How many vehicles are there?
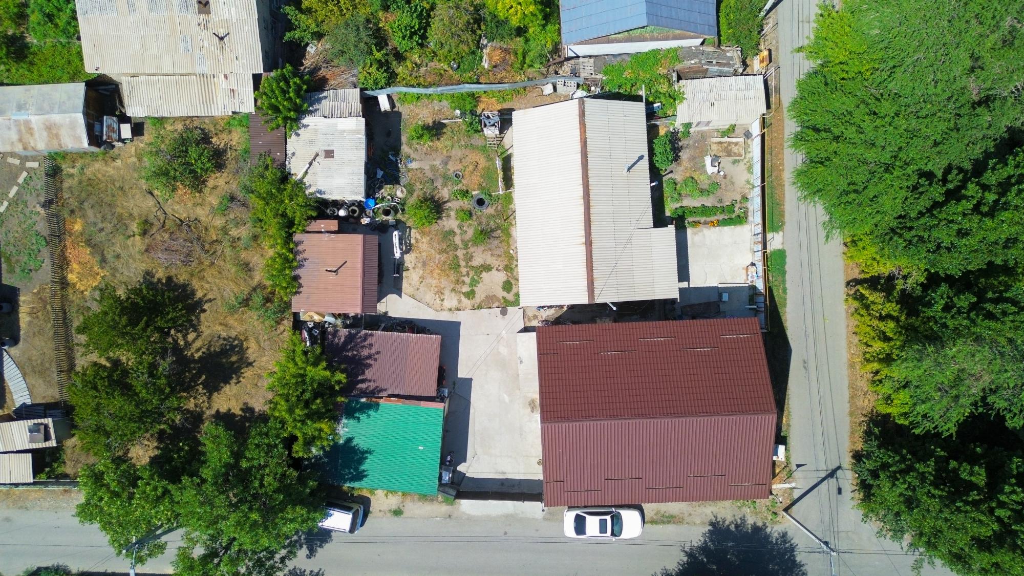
2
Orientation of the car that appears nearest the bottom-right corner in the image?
from left to right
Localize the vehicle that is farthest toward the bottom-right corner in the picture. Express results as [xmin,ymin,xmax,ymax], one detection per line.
[564,505,644,543]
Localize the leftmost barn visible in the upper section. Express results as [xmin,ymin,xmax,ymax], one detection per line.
[0,82,103,159]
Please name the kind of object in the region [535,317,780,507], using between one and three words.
house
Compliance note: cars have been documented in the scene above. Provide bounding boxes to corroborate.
[564,505,644,543]
[305,497,361,535]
